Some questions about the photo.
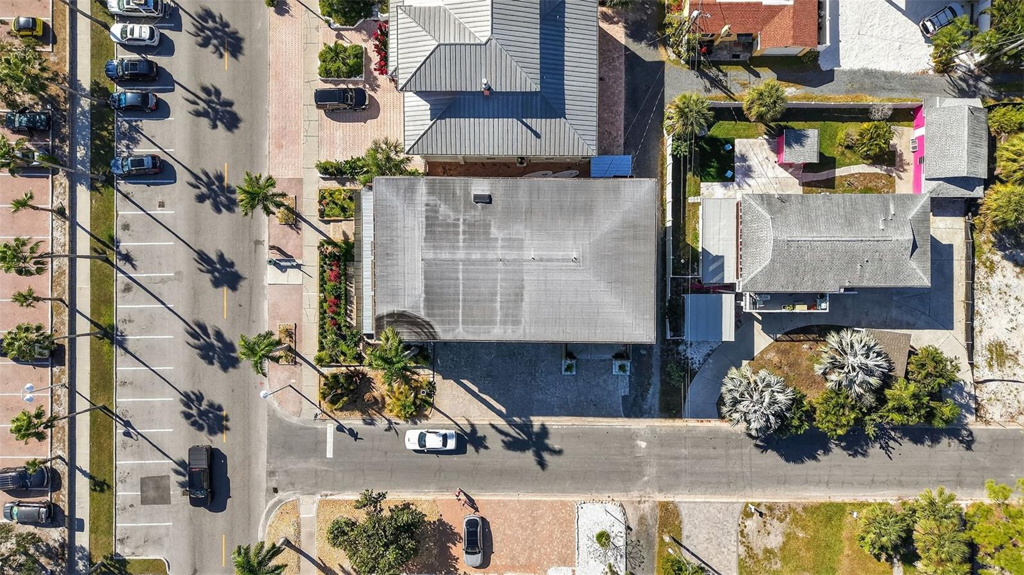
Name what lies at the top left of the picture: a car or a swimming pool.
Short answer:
car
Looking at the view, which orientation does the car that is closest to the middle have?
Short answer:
horizontally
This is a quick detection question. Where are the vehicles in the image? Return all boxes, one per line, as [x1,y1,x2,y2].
[4,109,53,133]
[106,0,165,19]
[1,500,54,526]
[913,0,965,40]
[184,444,215,506]
[109,88,160,113]
[9,14,44,38]
[312,86,368,113]
[103,54,160,83]
[461,514,486,568]
[109,20,161,48]
[0,466,52,493]
[110,152,164,177]
[405,427,458,453]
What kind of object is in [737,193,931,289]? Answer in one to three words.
house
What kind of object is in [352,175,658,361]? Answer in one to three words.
building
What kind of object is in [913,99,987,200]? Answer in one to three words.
house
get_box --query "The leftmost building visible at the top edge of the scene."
[388,0,599,167]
